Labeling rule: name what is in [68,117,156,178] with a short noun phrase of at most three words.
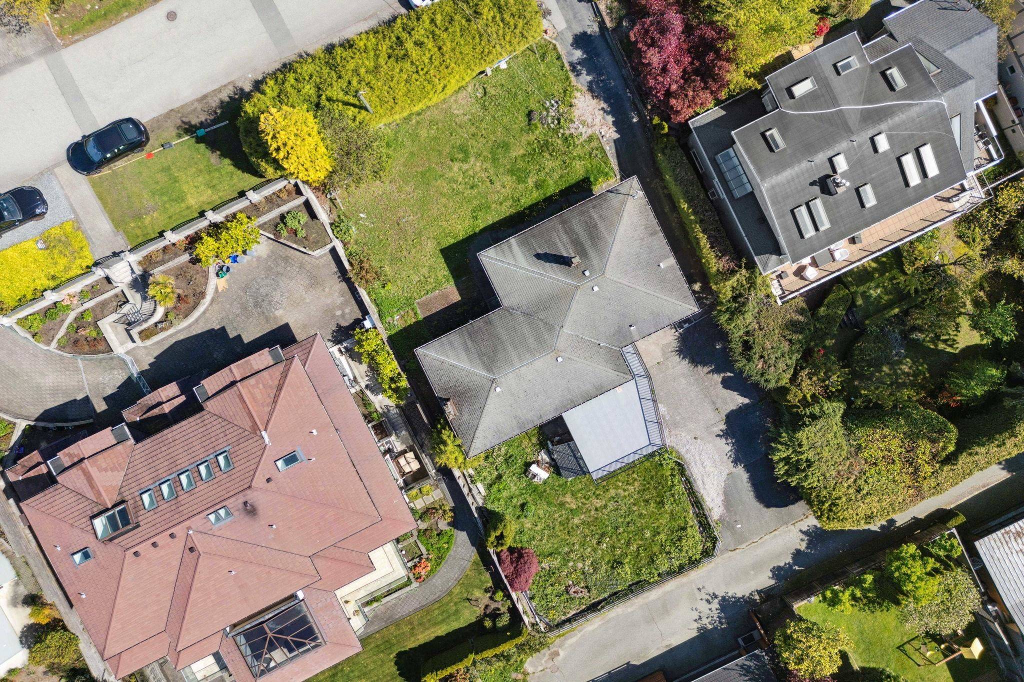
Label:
car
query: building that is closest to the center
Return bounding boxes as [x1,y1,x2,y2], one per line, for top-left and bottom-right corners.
[413,174,703,461]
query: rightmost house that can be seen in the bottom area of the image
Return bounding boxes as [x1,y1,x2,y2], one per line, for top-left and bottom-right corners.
[963,513,1024,663]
